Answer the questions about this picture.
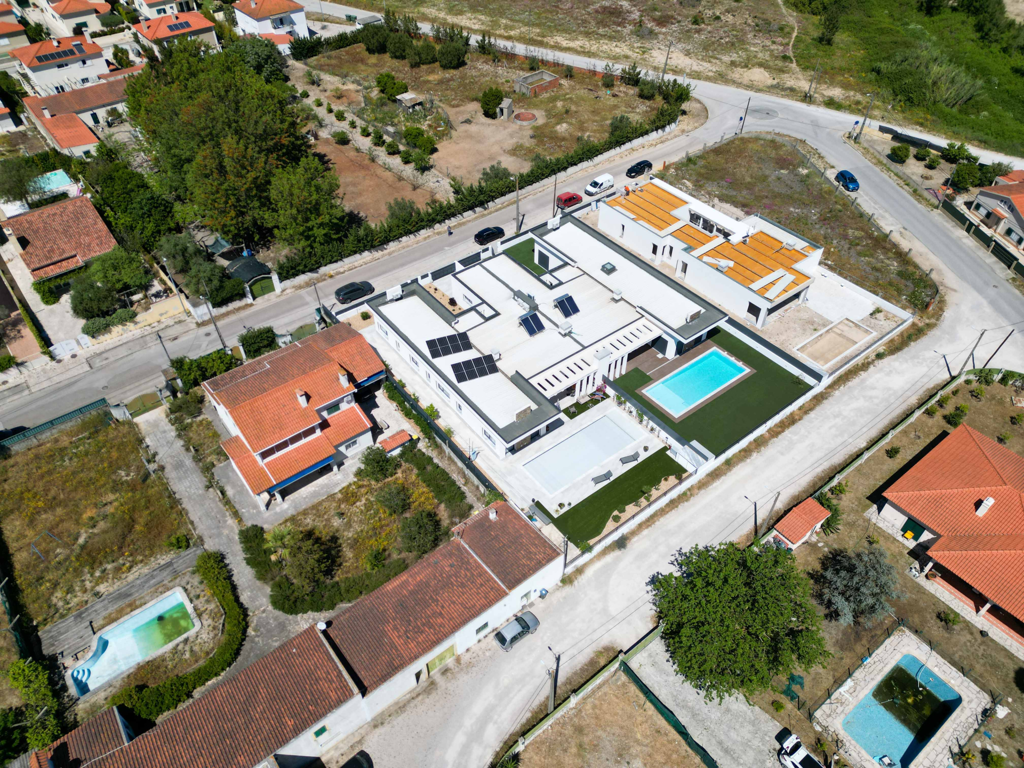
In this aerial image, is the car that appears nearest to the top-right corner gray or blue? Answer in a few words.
blue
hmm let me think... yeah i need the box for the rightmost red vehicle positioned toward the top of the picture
[556,189,584,211]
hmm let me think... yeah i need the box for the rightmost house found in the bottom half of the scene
[882,421,1024,647]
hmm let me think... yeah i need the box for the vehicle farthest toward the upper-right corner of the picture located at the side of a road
[834,171,861,193]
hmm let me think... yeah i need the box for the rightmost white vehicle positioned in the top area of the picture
[585,171,615,196]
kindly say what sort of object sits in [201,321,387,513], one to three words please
house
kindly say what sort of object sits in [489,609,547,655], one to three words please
car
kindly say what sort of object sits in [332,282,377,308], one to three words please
car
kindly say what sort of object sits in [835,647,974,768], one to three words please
swimming pool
